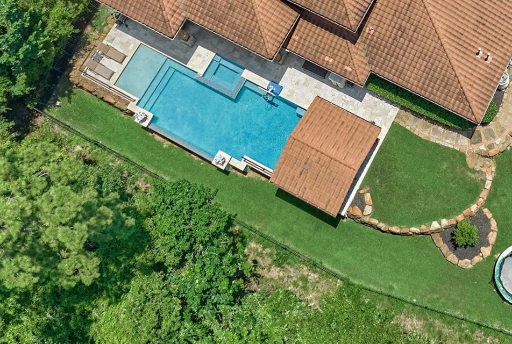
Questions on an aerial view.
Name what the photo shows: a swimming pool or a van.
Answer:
swimming pool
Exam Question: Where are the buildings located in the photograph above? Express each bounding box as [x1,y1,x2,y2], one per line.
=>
[93,0,512,126]
[267,95,386,221]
